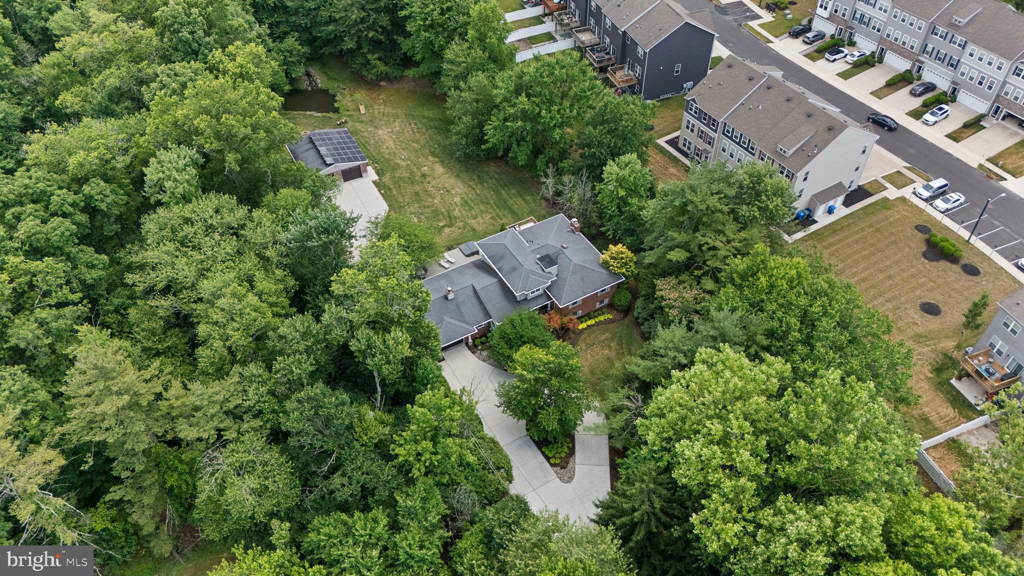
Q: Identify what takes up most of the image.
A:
trees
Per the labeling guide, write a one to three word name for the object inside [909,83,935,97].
car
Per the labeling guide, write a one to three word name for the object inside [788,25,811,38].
vehicle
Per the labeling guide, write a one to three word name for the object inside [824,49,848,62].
vehicle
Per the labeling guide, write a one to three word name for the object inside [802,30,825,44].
car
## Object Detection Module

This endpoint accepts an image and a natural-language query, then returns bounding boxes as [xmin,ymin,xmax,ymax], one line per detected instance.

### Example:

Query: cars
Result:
[1012,252,1024,269]
[922,105,949,123]
[824,49,848,62]
[909,83,935,97]
[788,25,811,38]
[867,114,898,132]
[802,30,825,44]
[914,176,950,199]
[931,194,965,212]
[844,51,869,64]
